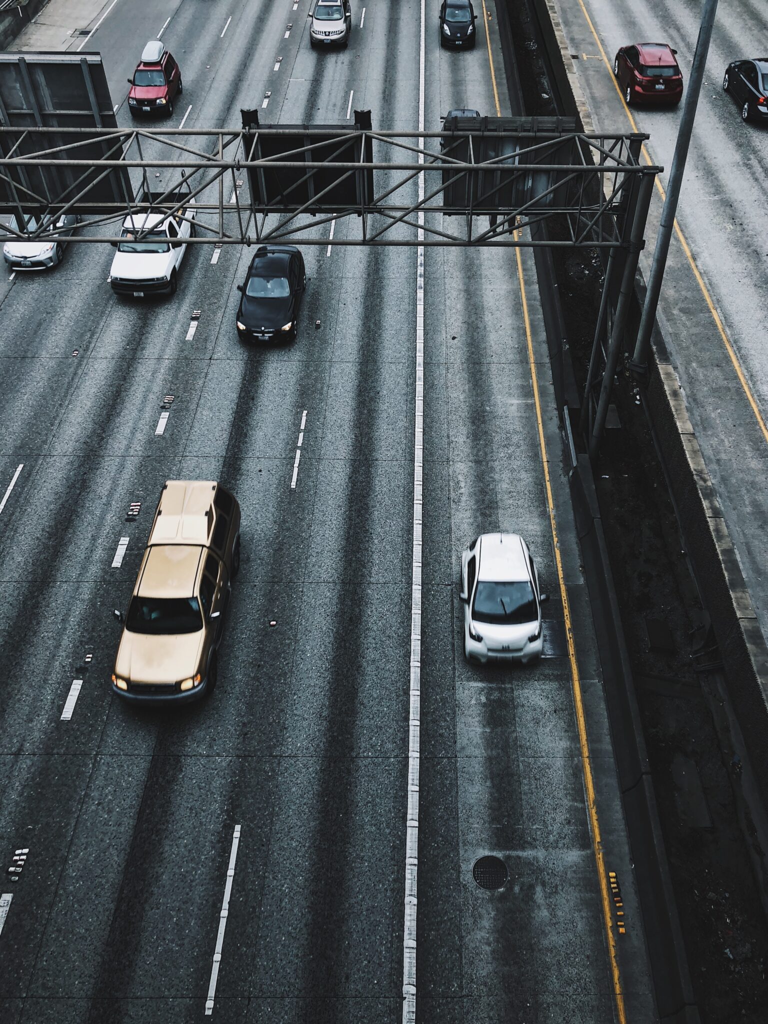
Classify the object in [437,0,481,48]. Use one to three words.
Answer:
car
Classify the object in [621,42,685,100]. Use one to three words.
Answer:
car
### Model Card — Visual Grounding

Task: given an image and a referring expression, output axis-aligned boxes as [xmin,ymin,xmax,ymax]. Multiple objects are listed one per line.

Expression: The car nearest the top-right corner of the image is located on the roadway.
[721,60,768,118]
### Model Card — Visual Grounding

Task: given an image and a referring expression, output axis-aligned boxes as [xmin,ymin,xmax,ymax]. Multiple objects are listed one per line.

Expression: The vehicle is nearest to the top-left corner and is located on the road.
[125,51,183,115]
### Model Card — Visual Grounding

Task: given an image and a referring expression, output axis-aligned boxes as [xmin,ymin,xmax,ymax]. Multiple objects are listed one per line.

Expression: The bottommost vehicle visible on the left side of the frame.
[107,477,241,701]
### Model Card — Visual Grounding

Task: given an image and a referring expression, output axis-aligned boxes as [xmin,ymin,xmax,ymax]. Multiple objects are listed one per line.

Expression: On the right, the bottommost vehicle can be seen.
[455,534,553,665]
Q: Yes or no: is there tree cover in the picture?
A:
No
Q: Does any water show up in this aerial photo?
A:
No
